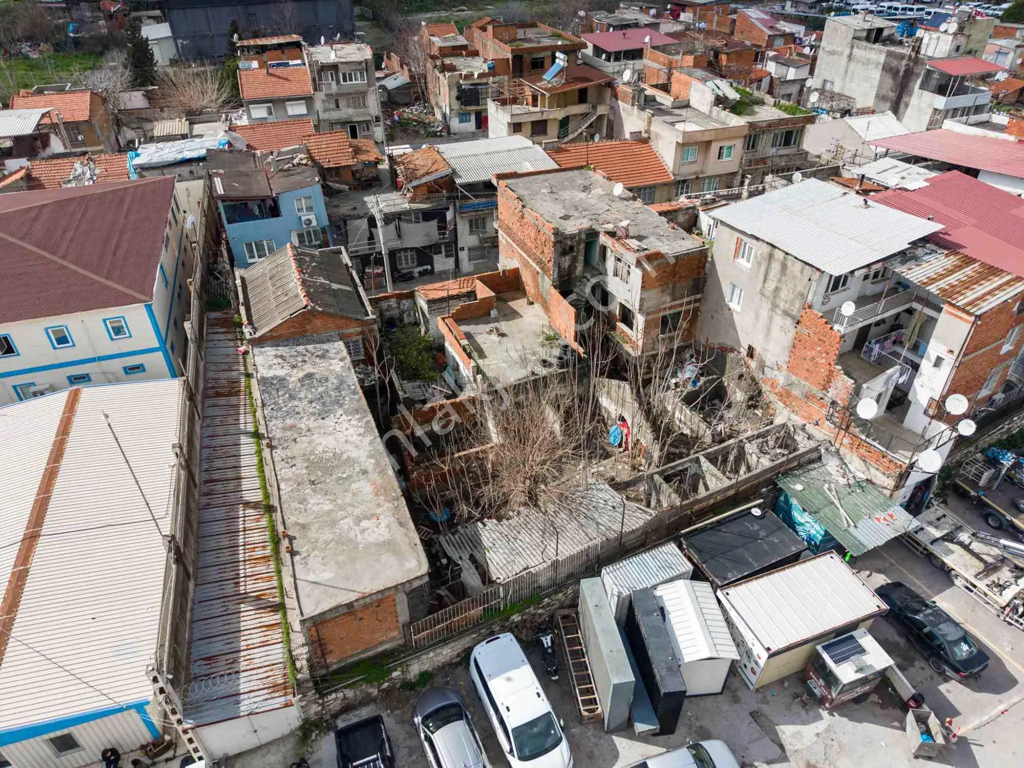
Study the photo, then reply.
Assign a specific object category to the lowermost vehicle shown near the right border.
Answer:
automobile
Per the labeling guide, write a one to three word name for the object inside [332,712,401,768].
truck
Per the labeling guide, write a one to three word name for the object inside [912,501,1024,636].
truck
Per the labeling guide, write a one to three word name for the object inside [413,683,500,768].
car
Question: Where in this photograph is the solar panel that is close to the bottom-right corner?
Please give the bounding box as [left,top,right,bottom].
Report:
[822,634,864,664]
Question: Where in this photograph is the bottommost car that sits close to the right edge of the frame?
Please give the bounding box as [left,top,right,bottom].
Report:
[874,585,996,700]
